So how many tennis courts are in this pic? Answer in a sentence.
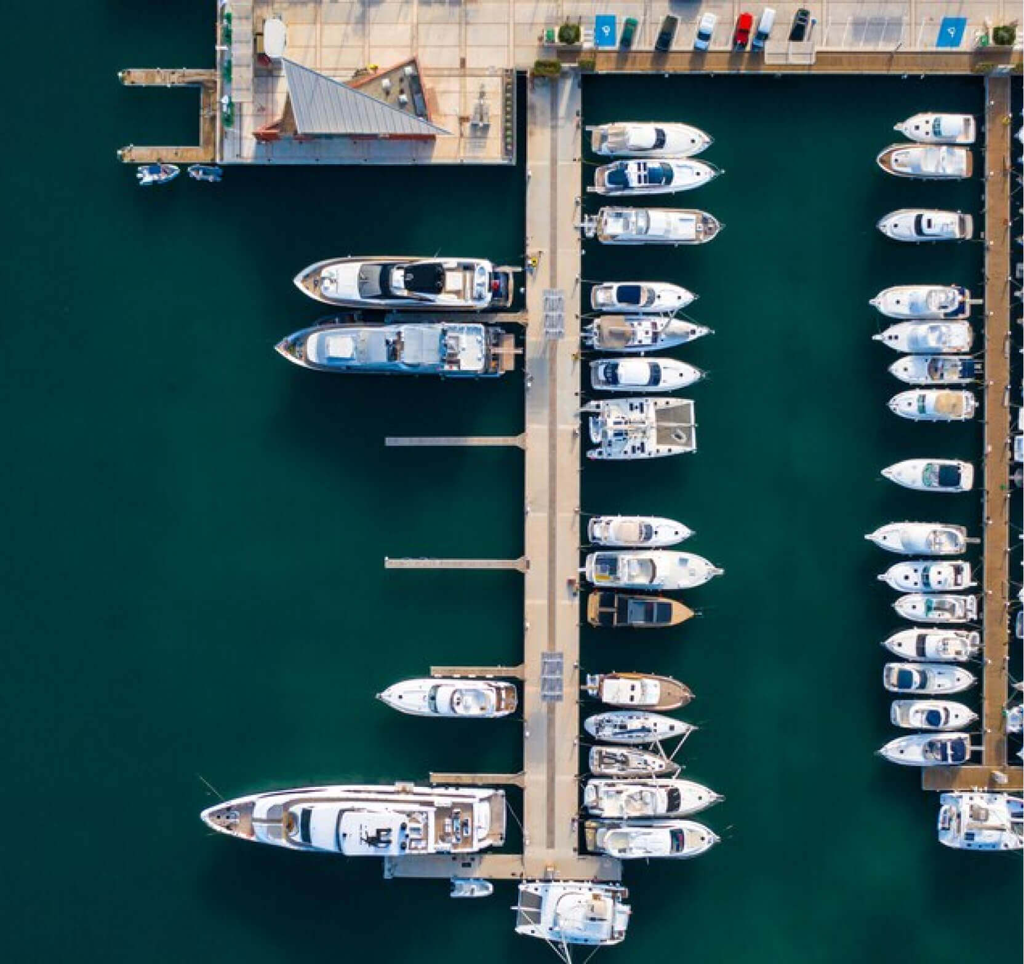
There are no tennis courts in this view.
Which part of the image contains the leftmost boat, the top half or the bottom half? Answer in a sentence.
The leftmost boat is in the top half of the image.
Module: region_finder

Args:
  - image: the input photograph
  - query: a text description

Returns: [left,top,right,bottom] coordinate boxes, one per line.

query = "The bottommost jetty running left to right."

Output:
[429,769,522,787]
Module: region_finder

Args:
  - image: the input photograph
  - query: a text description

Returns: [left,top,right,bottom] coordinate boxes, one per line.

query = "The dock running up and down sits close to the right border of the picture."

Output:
[921,75,1024,790]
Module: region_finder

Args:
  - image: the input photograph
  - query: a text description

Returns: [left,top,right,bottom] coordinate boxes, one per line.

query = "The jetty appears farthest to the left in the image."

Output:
[118,66,219,164]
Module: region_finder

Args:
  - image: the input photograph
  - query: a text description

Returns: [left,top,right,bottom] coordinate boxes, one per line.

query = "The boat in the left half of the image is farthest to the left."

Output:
[133,163,179,183]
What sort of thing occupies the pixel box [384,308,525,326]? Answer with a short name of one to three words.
pier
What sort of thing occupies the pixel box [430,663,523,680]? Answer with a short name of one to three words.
pier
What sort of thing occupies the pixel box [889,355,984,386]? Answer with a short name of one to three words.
boat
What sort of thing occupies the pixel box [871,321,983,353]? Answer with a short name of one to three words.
boat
